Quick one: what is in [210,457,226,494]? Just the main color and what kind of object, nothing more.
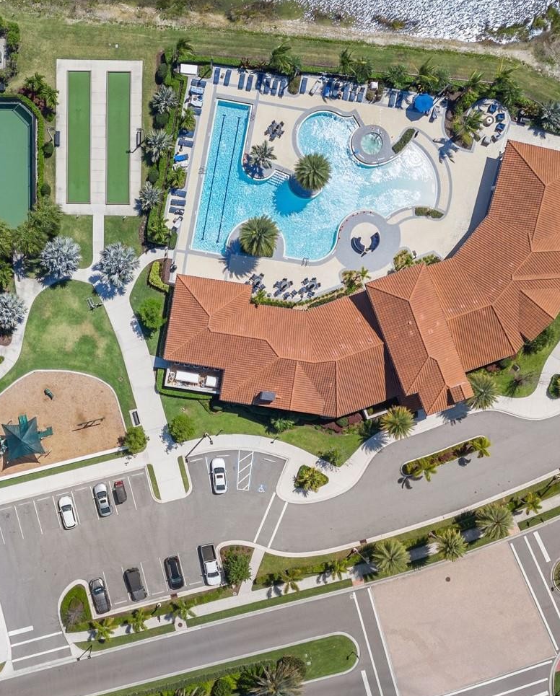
white car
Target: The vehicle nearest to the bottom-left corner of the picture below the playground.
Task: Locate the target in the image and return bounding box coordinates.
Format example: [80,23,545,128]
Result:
[90,577,109,614]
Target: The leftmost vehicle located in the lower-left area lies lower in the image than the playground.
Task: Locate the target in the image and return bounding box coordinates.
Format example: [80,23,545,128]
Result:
[57,495,78,531]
